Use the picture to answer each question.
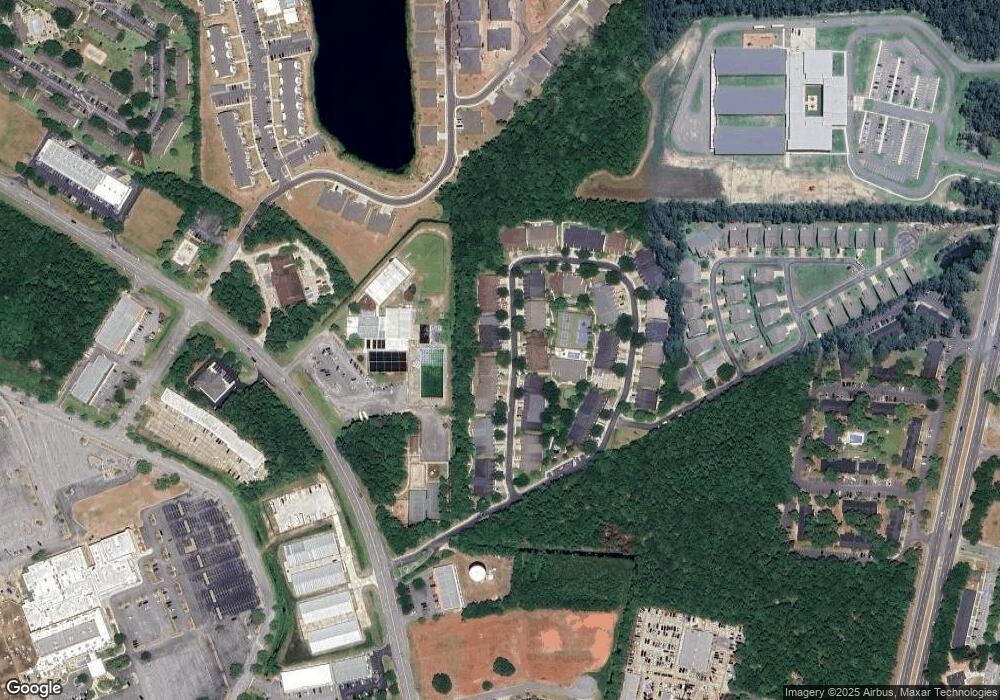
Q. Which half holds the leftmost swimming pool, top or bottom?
top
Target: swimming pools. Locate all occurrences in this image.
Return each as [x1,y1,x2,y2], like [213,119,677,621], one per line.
[848,432,864,445]
[17,6,60,42]
[555,349,587,359]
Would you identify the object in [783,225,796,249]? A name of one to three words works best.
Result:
house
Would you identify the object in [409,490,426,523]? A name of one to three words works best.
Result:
tennis court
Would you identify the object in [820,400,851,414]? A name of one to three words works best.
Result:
building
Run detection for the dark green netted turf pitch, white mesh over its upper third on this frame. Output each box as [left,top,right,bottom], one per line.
[421,349,443,397]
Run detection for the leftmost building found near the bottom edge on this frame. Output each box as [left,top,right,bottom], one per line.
[19,528,146,678]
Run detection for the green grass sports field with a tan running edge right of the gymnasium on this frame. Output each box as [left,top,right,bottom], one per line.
[406,235,445,294]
